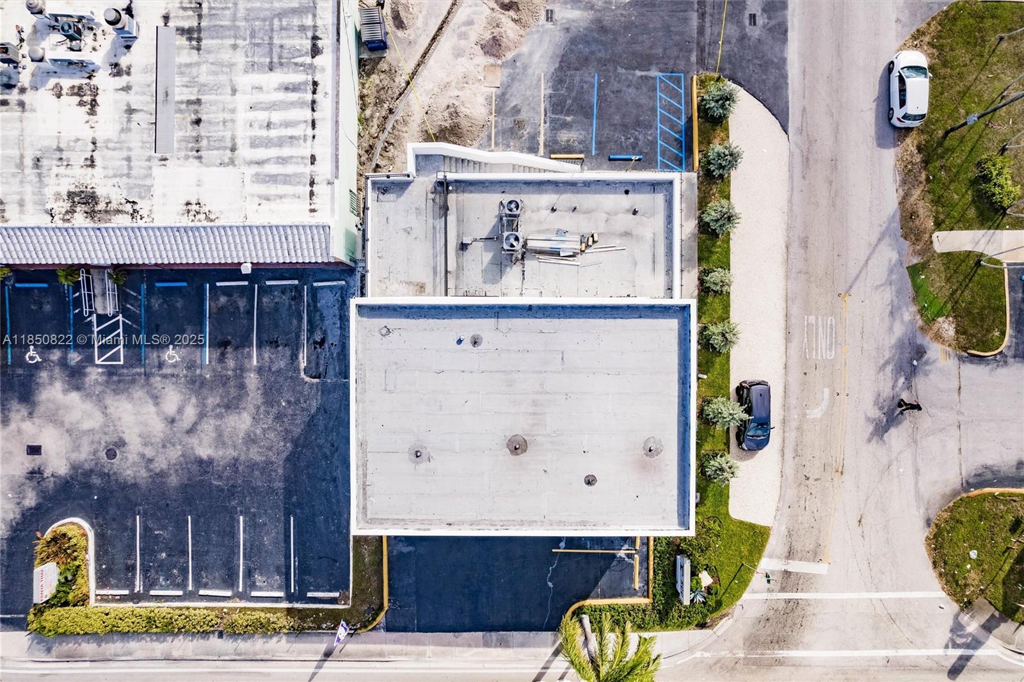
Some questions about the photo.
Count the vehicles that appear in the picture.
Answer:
2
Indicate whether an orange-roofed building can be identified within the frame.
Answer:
No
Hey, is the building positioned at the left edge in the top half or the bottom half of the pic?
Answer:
top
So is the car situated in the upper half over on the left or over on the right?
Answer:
right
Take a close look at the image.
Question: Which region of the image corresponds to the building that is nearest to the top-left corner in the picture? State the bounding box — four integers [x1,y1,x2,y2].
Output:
[0,0,358,273]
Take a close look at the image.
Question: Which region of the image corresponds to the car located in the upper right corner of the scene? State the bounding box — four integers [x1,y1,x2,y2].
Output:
[890,49,937,127]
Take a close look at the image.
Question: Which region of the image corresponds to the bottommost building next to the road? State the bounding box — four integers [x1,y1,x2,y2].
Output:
[351,298,695,535]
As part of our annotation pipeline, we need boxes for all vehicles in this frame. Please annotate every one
[738,378,781,452]
[890,49,937,127]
